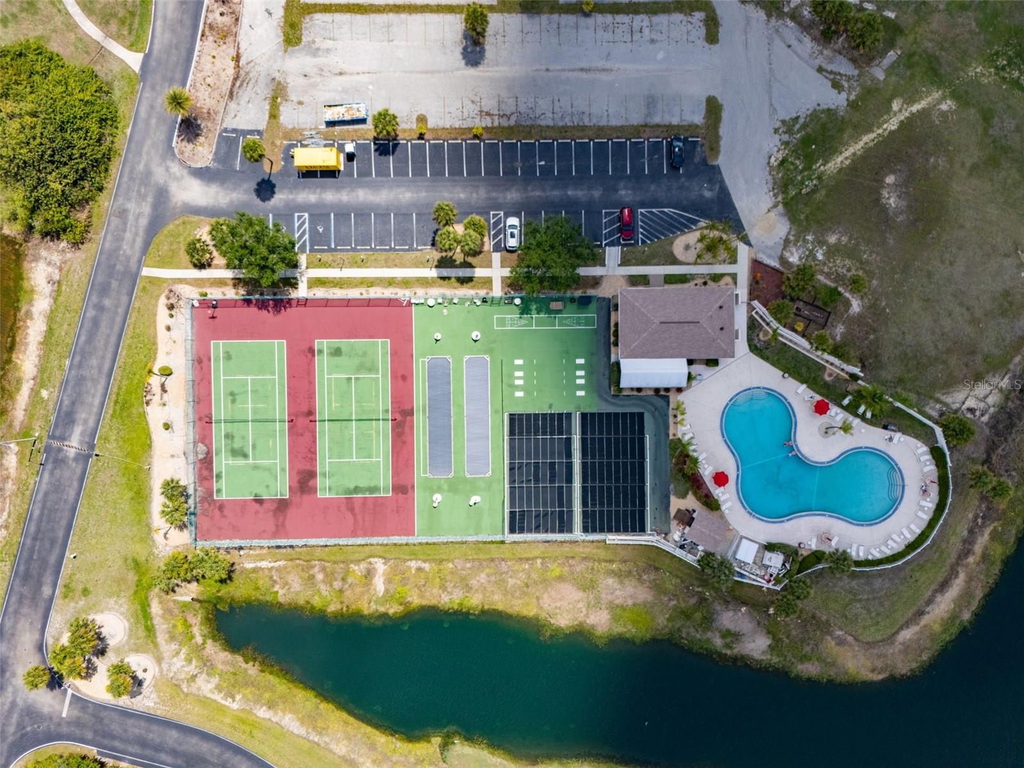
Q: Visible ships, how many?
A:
0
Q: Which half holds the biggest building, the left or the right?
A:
right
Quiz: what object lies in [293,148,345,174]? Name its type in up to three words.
trailer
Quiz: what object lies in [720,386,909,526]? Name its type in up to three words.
swimming pool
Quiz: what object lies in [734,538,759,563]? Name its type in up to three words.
shed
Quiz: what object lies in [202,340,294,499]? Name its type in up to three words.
tennis court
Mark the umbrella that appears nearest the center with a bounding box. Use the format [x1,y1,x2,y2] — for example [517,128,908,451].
[713,471,729,487]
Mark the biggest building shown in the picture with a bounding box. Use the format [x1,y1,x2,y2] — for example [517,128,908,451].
[619,288,741,358]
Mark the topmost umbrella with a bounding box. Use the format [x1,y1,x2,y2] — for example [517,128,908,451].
[813,399,830,415]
